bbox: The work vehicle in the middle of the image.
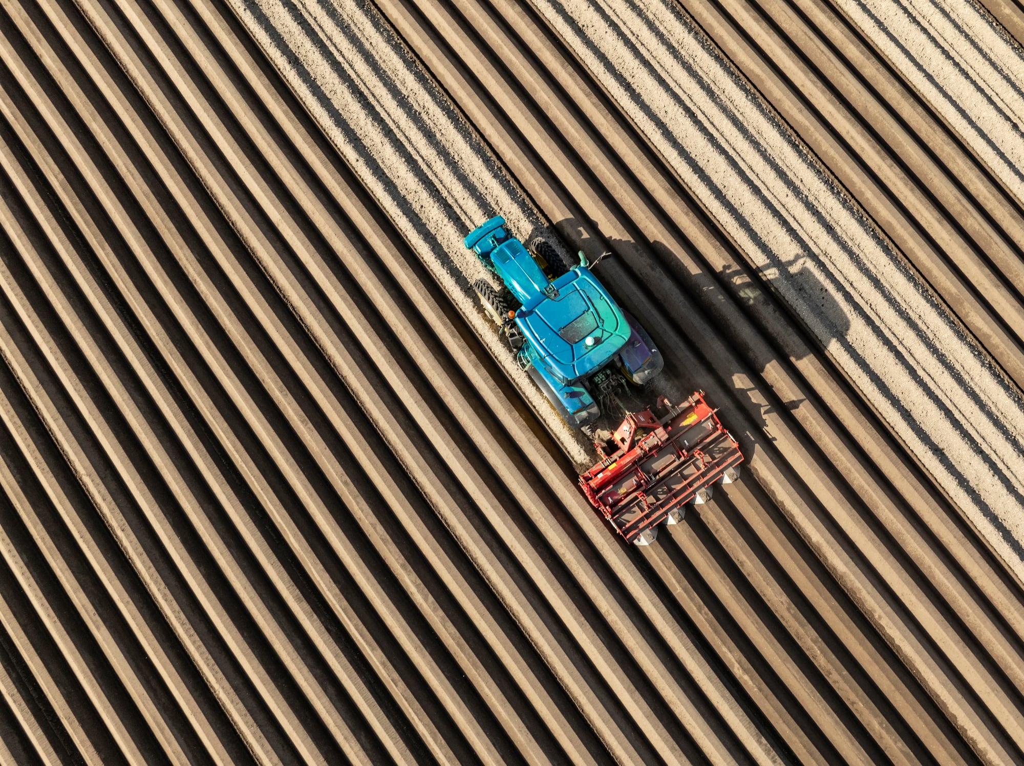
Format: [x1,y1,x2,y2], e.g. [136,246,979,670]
[465,218,660,436]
